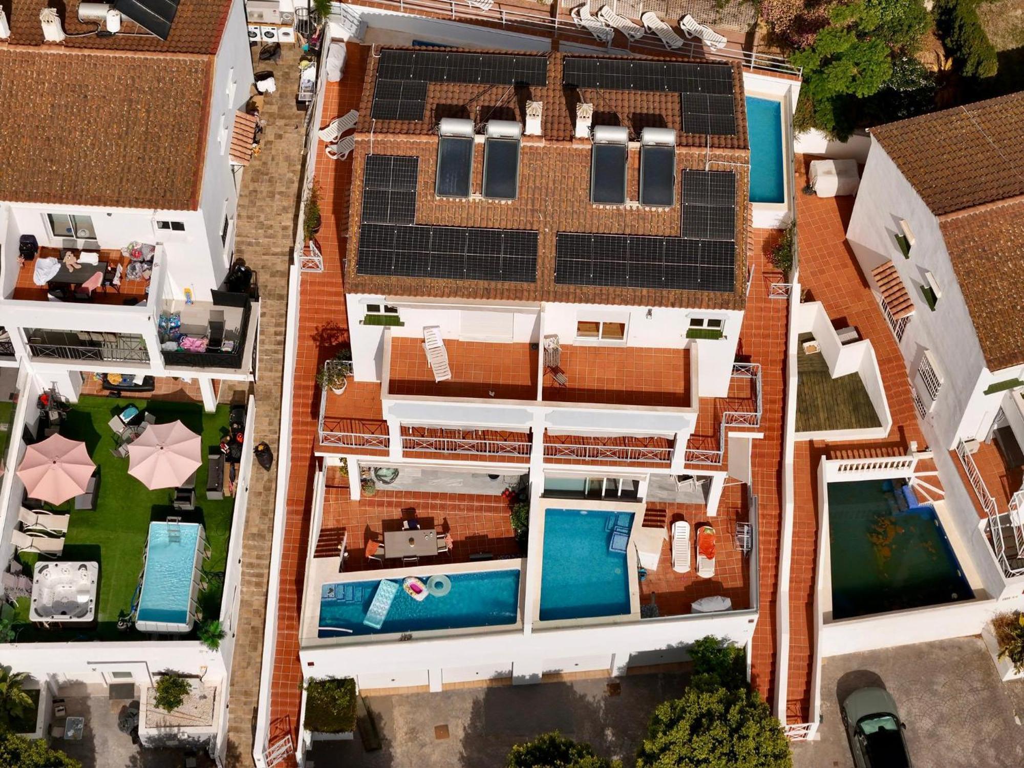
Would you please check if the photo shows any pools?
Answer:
Yes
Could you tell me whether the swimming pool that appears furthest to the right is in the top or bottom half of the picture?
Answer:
bottom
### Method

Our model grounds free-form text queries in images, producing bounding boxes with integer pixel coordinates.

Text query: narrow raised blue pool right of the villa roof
[750,95,791,216]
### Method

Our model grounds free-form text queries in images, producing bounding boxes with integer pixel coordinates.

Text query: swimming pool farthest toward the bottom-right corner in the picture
[824,486,1005,661]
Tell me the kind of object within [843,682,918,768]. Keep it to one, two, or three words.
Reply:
car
